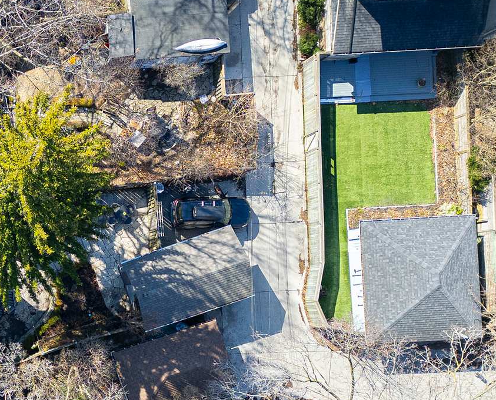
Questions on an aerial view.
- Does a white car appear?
No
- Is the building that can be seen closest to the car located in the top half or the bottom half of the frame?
bottom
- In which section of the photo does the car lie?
center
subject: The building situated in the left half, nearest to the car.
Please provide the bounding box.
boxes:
[118,225,255,335]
